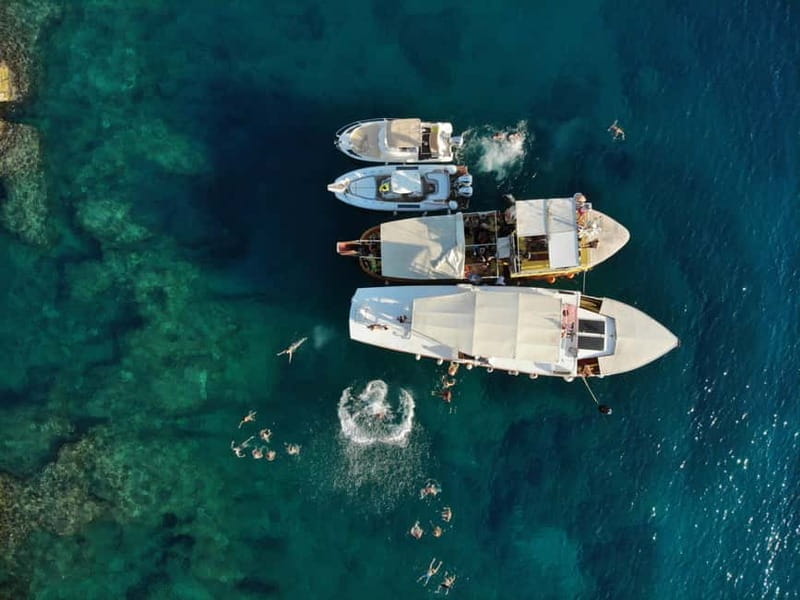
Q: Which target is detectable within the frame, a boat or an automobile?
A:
boat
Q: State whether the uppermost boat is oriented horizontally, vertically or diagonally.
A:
horizontally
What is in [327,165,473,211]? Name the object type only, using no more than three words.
boat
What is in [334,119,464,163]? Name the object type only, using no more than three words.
boat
